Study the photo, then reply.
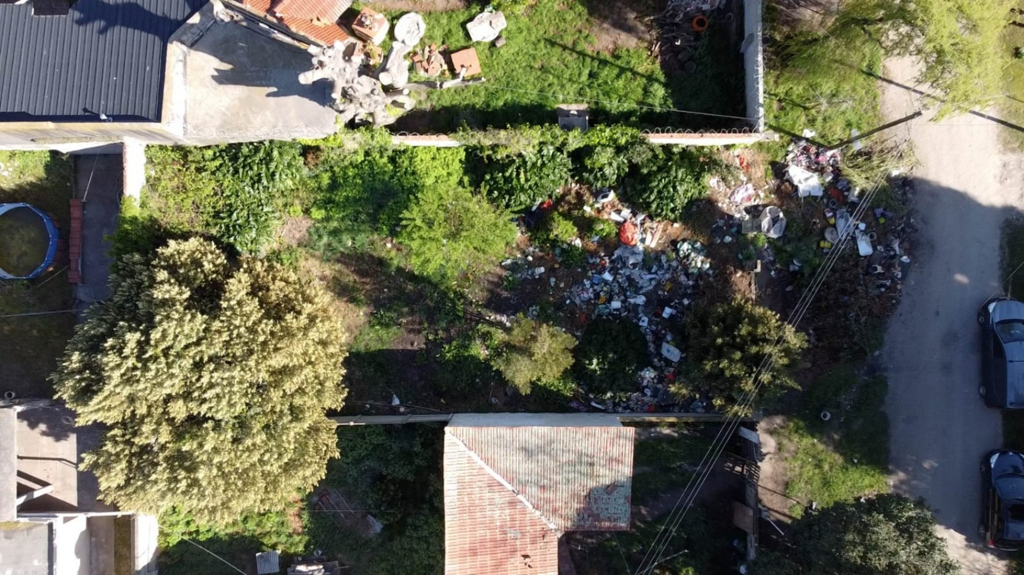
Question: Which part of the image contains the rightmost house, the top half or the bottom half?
bottom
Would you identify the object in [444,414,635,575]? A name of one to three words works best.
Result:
house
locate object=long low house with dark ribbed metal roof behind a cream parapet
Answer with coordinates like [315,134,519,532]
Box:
[0,0,235,150]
